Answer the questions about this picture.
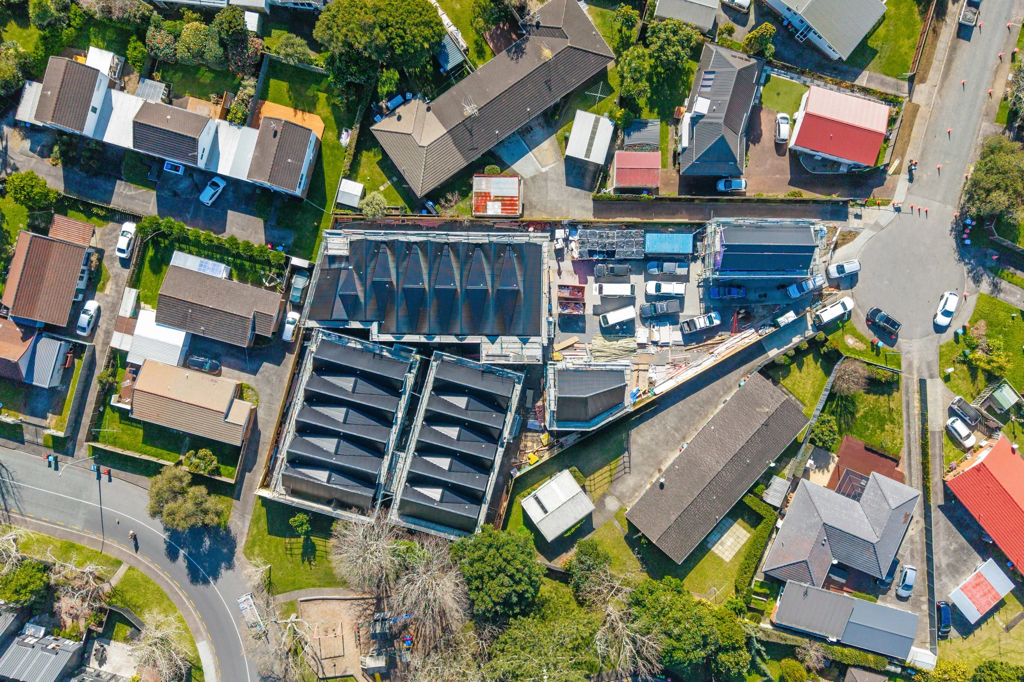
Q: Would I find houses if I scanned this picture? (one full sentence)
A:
Yes, the picture does show a house.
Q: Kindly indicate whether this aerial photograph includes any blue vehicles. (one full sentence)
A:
Yes, you can see a blue vehicle in this photo.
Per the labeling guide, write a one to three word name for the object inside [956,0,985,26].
truck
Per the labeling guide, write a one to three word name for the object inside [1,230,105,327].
house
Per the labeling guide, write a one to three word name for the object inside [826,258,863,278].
car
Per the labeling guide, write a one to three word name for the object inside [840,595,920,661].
building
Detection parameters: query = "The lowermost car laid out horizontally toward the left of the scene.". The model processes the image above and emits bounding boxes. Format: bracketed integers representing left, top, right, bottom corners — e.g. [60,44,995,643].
[185,355,222,374]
